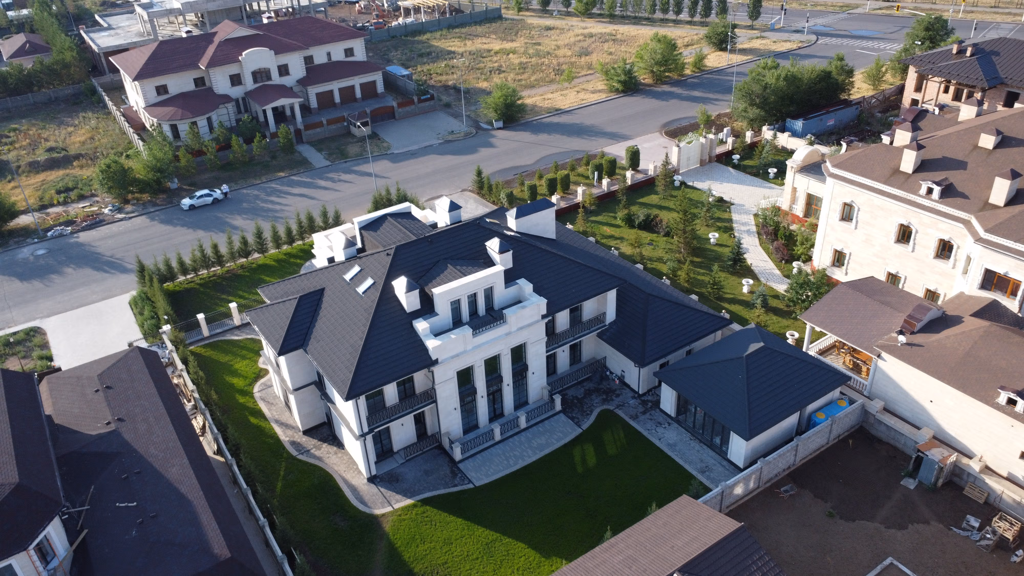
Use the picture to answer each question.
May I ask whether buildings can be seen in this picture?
Yes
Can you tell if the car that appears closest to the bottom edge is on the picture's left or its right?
left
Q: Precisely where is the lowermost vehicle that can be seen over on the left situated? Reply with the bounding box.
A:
[179,188,222,209]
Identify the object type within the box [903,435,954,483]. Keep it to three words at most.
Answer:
shed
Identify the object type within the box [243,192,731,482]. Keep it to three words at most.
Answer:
house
